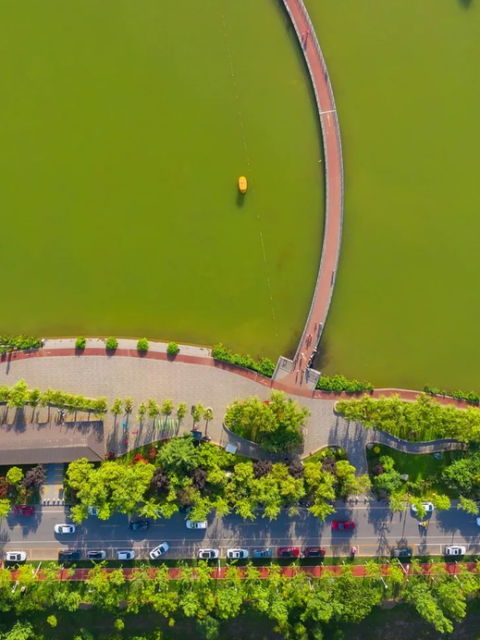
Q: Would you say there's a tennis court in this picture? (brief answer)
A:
No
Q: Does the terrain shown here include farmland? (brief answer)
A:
No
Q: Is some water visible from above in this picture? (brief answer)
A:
Yes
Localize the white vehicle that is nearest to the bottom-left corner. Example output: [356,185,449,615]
[5,550,27,562]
